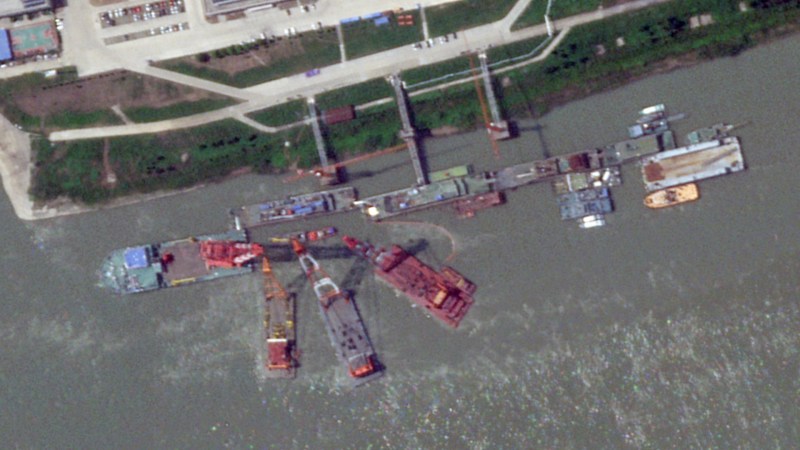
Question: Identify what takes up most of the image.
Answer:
water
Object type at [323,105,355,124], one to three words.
building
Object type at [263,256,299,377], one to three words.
crane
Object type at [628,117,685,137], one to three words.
boat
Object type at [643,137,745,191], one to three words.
ship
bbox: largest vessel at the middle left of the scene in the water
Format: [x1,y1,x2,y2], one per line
[96,230,262,290]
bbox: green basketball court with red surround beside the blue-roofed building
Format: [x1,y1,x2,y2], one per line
[11,21,60,61]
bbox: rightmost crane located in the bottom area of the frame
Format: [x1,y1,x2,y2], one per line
[292,239,381,381]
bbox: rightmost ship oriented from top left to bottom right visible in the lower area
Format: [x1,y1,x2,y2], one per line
[441,266,476,295]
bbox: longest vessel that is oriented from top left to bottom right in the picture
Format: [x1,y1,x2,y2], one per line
[341,236,474,326]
